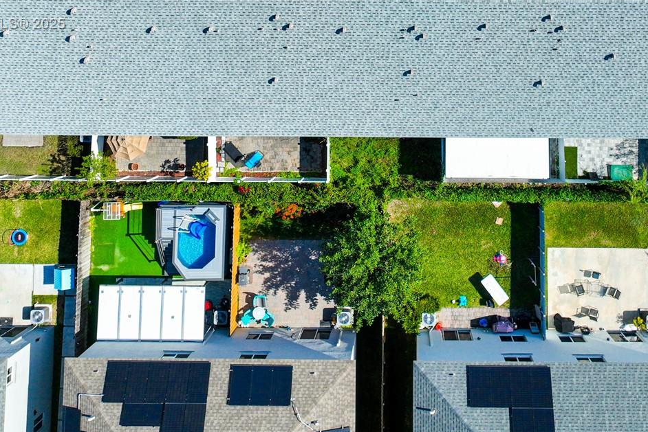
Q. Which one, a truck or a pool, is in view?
pool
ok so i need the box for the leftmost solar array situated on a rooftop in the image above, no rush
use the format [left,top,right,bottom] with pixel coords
[62,406,81,432]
